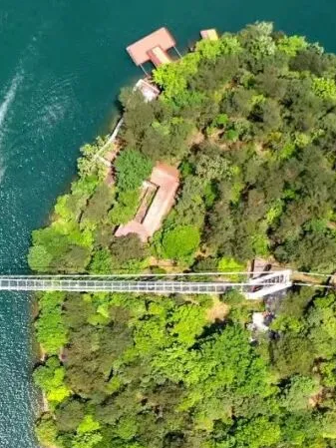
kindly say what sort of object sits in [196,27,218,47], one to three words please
building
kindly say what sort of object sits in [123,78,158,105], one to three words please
building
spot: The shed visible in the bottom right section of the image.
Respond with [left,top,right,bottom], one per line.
[243,316,271,336]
